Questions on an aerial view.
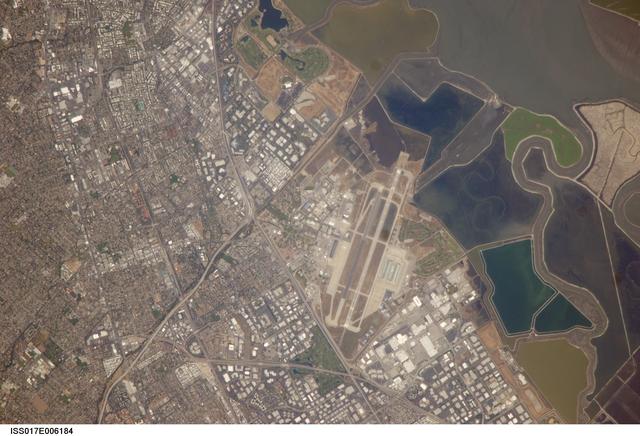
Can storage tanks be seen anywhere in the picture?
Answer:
No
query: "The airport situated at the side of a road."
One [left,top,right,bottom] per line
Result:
[318,151,416,334]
